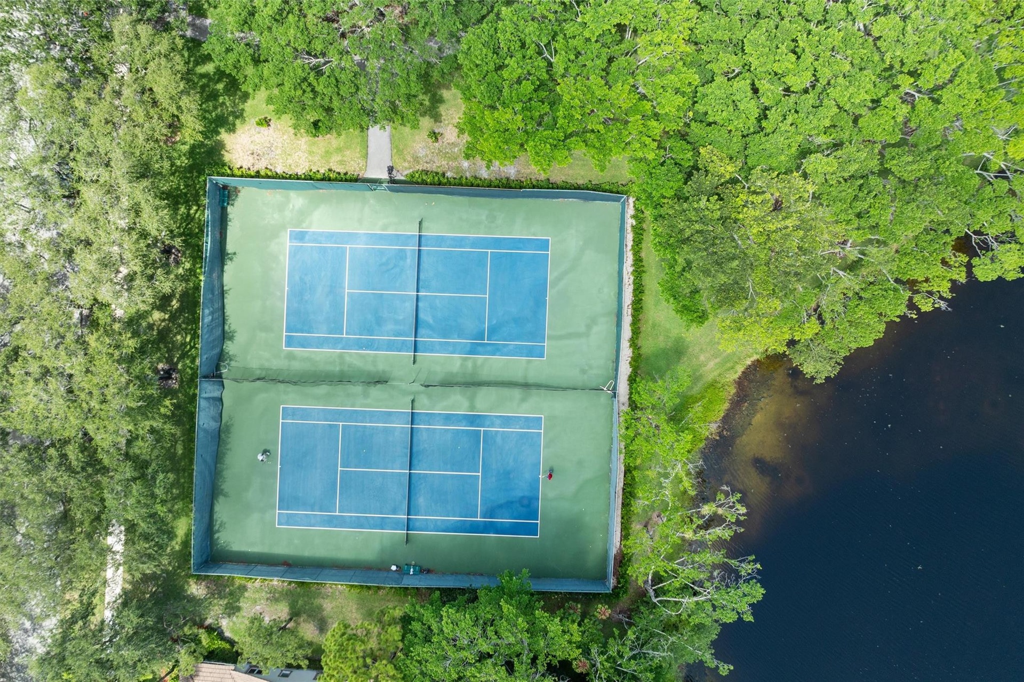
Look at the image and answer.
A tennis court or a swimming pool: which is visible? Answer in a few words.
tennis court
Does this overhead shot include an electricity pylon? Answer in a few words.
No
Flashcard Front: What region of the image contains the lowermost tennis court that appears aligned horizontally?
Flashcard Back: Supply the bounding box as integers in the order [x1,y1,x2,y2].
[211,376,611,578]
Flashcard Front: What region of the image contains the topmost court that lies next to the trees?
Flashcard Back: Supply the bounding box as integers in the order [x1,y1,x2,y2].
[219,178,619,389]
